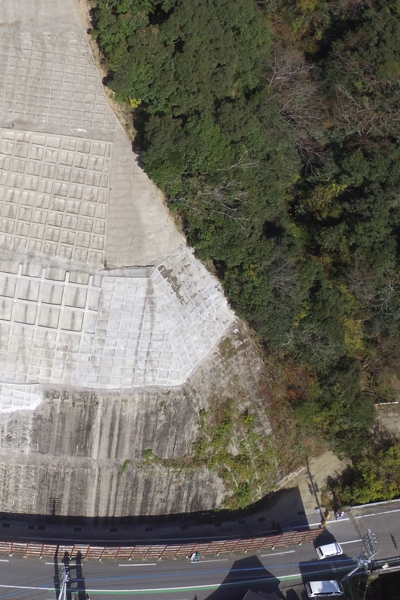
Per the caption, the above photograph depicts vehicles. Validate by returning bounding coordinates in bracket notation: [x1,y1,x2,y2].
[304,579,343,599]
[314,543,341,561]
